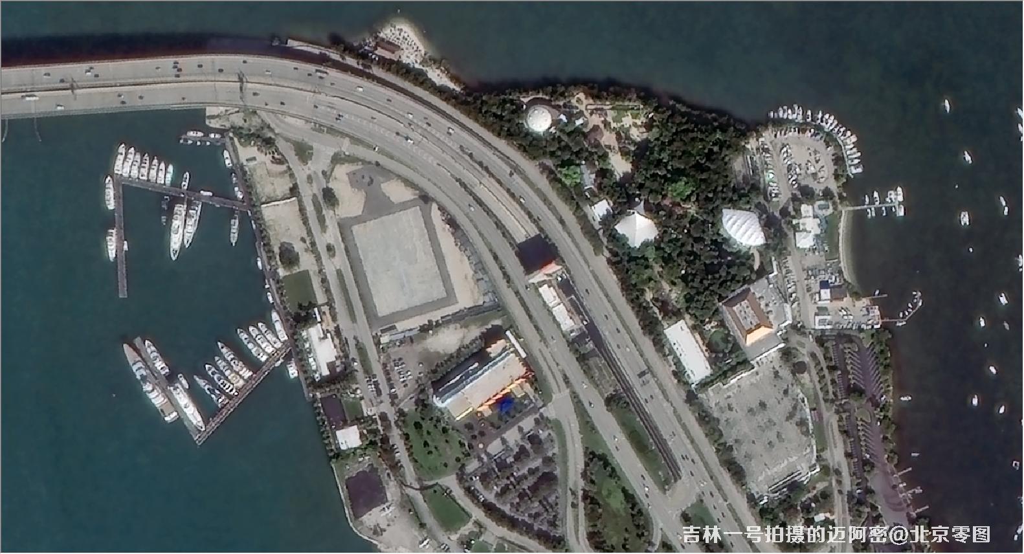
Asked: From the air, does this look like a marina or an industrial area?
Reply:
marina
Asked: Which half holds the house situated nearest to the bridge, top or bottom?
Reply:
top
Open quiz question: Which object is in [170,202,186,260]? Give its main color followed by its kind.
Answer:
white boat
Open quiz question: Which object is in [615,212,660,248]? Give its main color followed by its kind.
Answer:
white tent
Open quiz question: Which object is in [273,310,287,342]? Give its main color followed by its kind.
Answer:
white boat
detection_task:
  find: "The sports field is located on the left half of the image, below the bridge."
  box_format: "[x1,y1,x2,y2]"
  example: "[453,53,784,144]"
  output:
[283,269,317,310]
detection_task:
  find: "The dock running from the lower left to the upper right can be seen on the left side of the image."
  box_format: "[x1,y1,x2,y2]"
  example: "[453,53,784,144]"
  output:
[198,346,291,443]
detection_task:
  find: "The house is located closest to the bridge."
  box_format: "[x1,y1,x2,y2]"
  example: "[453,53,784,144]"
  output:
[375,36,400,60]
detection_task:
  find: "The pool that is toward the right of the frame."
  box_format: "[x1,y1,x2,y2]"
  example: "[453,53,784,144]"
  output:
[815,200,833,217]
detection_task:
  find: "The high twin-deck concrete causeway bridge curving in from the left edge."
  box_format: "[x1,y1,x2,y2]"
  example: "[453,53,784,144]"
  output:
[0,54,360,138]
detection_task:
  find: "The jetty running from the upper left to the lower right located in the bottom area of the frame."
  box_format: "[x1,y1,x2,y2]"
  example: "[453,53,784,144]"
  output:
[136,335,201,441]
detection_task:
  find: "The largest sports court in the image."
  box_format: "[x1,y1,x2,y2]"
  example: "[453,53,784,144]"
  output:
[320,395,347,430]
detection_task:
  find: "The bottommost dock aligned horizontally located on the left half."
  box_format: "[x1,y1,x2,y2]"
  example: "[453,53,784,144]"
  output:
[116,173,246,208]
